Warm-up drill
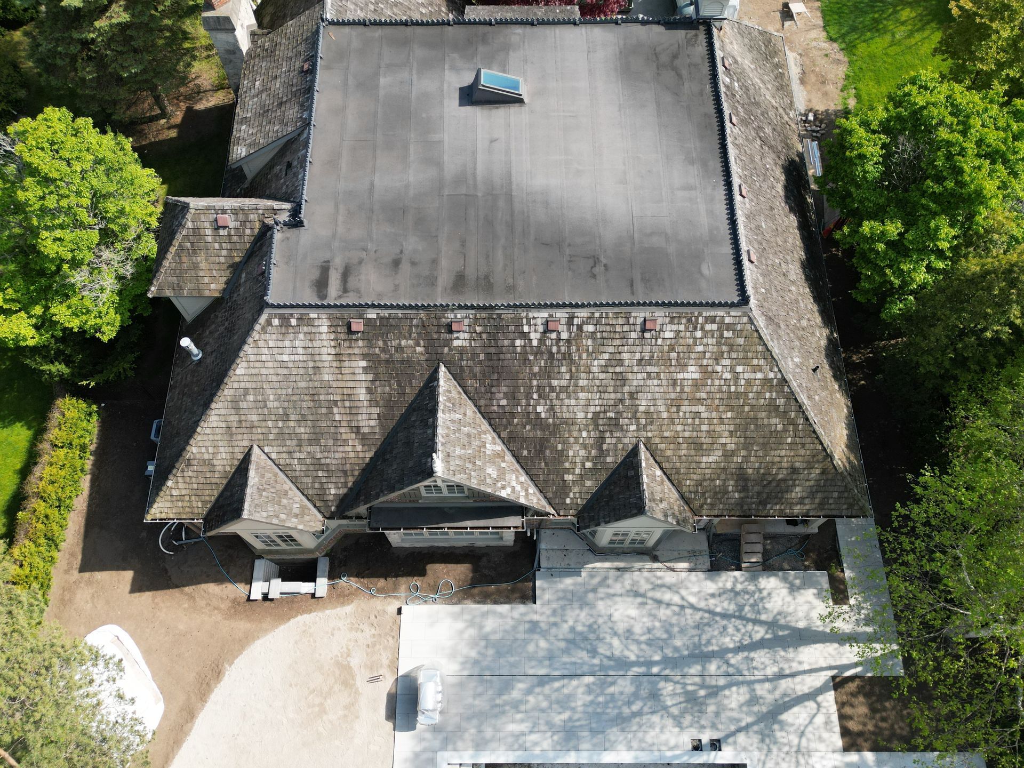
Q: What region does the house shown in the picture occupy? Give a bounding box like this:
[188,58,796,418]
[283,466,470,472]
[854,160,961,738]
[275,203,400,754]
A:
[141,0,877,551]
